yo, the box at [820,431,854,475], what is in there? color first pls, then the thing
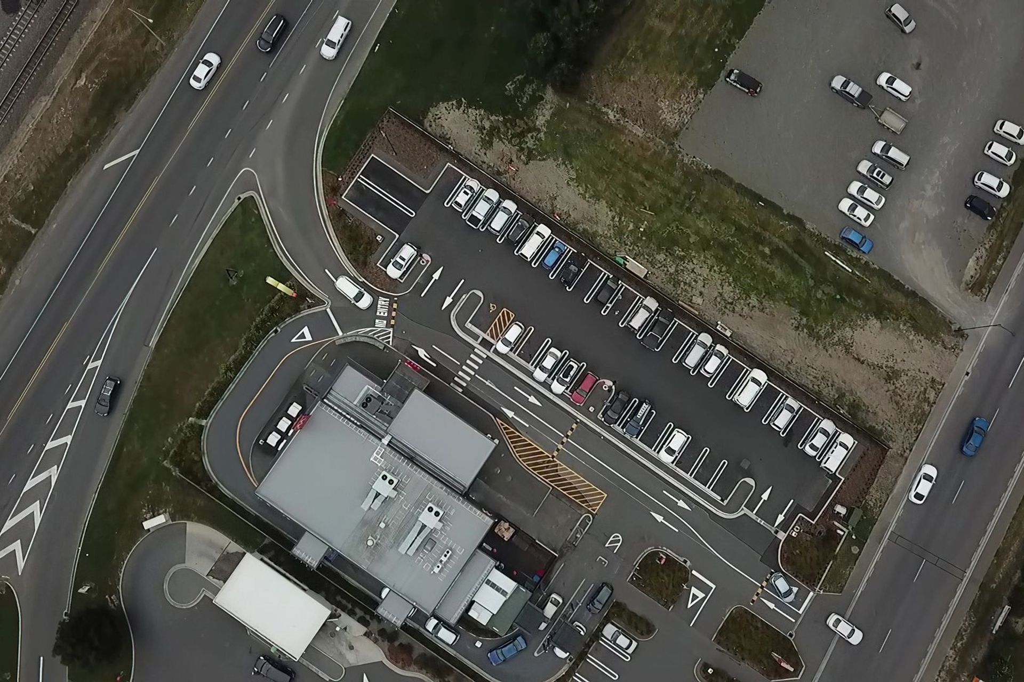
white van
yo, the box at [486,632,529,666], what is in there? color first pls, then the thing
blue car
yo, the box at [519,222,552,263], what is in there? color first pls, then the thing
white van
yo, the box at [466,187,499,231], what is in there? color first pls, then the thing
white truck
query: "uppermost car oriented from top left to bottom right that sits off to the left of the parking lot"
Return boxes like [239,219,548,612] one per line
[335,274,374,310]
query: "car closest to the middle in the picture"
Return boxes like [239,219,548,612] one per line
[496,319,525,355]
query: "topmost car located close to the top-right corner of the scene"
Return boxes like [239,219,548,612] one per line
[881,2,916,36]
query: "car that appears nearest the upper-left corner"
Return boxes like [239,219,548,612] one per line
[190,51,222,93]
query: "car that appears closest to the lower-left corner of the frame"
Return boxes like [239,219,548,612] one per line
[254,654,296,682]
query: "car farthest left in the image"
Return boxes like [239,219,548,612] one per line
[95,375,123,416]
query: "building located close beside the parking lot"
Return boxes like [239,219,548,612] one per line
[255,360,498,629]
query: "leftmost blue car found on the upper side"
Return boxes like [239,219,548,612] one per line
[540,240,566,272]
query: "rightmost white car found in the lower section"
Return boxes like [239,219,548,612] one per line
[906,462,936,506]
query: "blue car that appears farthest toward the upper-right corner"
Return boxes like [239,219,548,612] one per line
[836,225,875,255]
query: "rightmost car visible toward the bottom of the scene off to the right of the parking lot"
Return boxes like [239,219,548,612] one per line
[959,416,988,459]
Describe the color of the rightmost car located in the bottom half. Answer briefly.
blue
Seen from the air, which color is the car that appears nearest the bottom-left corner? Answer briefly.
black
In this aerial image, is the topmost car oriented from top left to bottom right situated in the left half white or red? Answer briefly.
white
